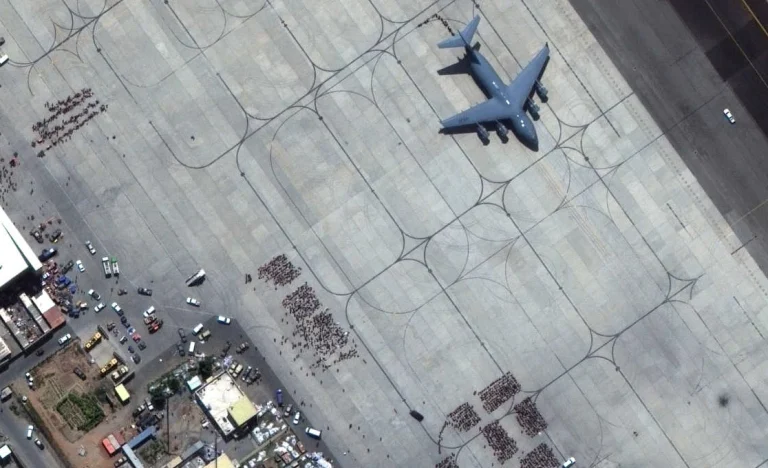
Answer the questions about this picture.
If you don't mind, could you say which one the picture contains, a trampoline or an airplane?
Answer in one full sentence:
The image shows an airplane.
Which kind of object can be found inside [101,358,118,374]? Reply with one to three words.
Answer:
work vehicle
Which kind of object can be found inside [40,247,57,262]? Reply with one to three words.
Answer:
vehicle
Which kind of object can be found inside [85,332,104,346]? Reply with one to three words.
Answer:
work vehicle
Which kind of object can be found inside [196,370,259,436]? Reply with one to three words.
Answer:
building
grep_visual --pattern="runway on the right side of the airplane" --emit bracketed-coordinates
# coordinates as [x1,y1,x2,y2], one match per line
[668,0,768,140]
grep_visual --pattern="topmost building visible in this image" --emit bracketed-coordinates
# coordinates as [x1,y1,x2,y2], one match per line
[0,206,43,290]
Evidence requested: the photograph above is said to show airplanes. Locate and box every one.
[436,16,550,147]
